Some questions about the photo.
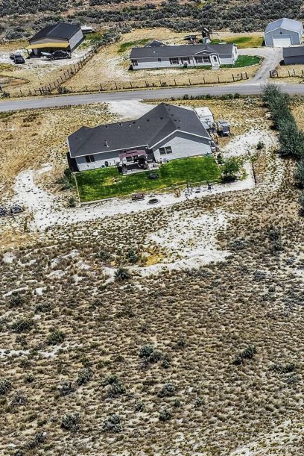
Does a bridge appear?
No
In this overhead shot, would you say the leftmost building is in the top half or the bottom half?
top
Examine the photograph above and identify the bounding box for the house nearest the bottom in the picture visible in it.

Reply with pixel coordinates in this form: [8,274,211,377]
[64,103,214,170]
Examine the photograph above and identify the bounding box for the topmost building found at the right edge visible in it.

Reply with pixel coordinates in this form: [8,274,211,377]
[263,15,304,47]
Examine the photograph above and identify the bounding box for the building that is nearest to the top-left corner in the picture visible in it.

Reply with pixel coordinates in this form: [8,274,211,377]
[24,23,84,61]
